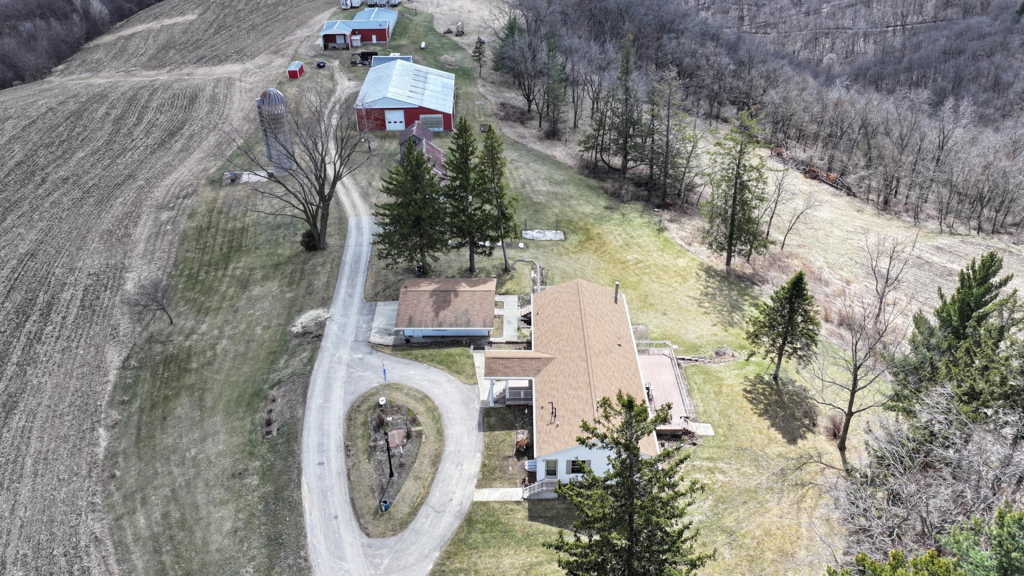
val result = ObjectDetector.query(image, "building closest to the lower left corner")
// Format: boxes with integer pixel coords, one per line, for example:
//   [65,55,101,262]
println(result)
[394,277,496,337]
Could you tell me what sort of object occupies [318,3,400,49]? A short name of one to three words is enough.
building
